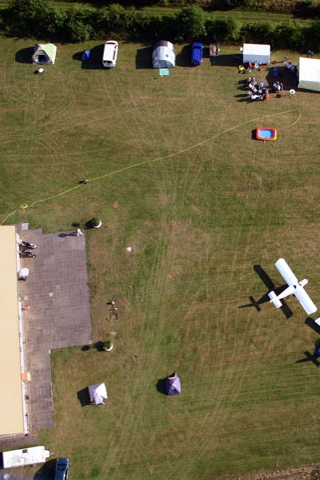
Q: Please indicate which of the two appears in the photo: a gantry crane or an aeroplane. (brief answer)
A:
aeroplane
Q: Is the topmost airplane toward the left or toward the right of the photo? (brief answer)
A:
right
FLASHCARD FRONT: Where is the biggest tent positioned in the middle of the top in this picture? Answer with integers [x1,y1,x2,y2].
[151,45,174,71]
